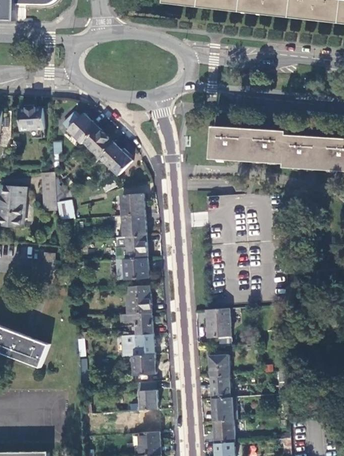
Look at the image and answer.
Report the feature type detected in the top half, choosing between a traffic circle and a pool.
traffic circle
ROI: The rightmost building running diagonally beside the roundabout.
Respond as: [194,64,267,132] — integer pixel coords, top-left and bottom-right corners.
[62,105,135,175]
